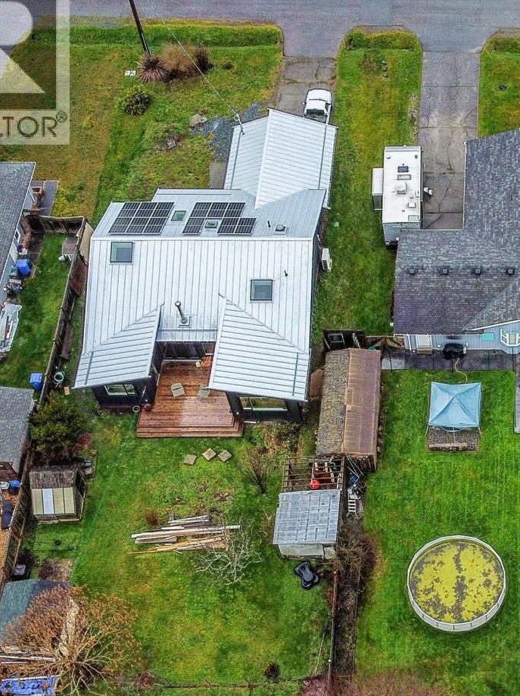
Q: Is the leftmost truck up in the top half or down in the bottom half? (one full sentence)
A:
You can find the leftmost truck in the top half.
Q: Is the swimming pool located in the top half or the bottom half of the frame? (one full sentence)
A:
You can find the swimming pool in the bottom half.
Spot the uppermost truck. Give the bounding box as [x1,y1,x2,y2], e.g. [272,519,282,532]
[299,80,332,118]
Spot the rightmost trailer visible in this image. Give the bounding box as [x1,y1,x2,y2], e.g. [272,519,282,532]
[371,152,425,250]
